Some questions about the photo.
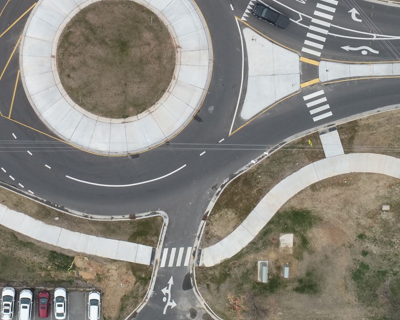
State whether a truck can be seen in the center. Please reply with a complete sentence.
No, no truck is visible in the center.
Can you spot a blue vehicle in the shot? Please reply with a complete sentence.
No, I can't see a single blue vehicle in this photo.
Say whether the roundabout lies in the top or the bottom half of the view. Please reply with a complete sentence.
It is in the top half that the roundabout appears.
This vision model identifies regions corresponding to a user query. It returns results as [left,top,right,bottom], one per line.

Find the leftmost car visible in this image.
[0,287,16,320]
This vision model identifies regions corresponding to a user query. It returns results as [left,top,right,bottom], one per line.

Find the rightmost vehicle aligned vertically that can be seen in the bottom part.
[87,290,100,320]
